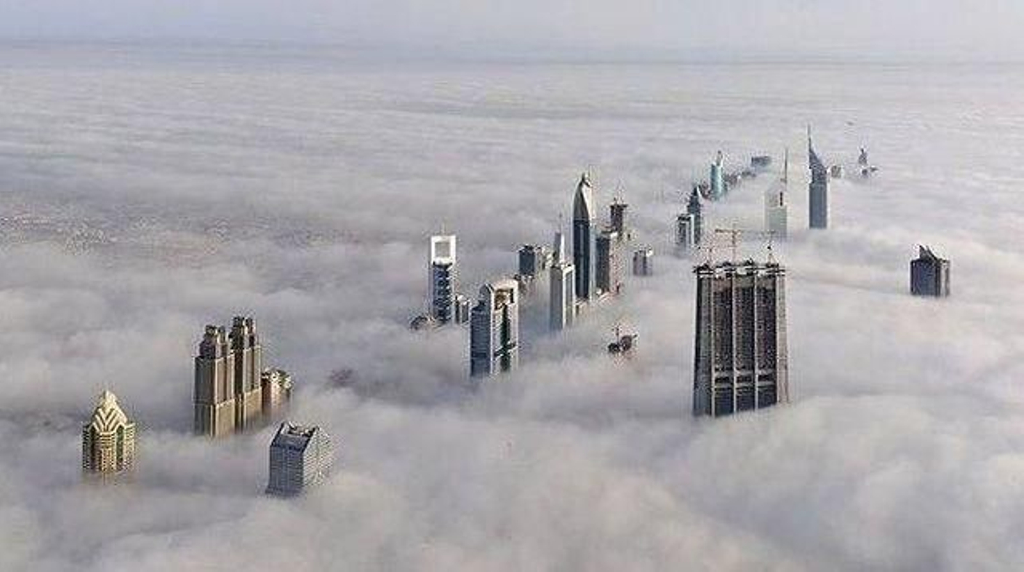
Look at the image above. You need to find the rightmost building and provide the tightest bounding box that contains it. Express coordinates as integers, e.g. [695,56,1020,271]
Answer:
[911,240,943,314]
